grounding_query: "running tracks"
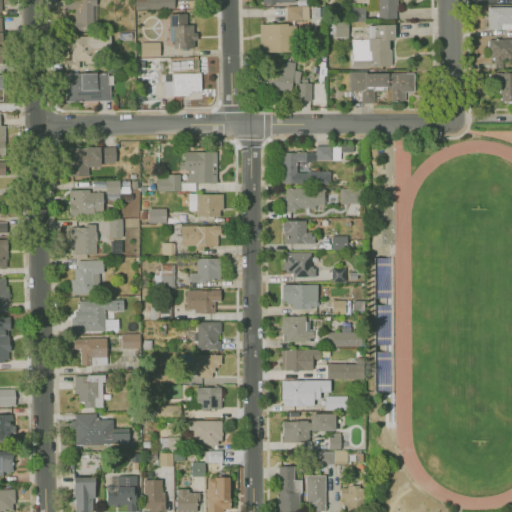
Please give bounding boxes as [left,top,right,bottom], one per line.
[395,138,512,509]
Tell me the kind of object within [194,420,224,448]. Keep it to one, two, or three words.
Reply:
house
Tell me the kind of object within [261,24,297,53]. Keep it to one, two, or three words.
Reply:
house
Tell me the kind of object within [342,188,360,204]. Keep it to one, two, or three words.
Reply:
building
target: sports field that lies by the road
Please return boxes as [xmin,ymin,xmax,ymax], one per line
[412,154,512,497]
